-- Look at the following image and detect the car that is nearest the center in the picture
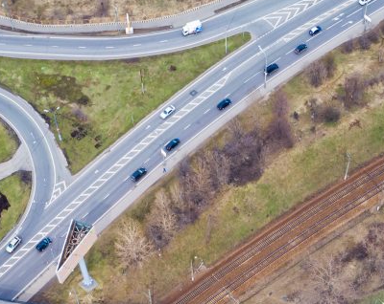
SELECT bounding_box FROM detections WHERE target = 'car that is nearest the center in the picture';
[164,138,181,152]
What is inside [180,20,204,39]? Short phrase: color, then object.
white vehicle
